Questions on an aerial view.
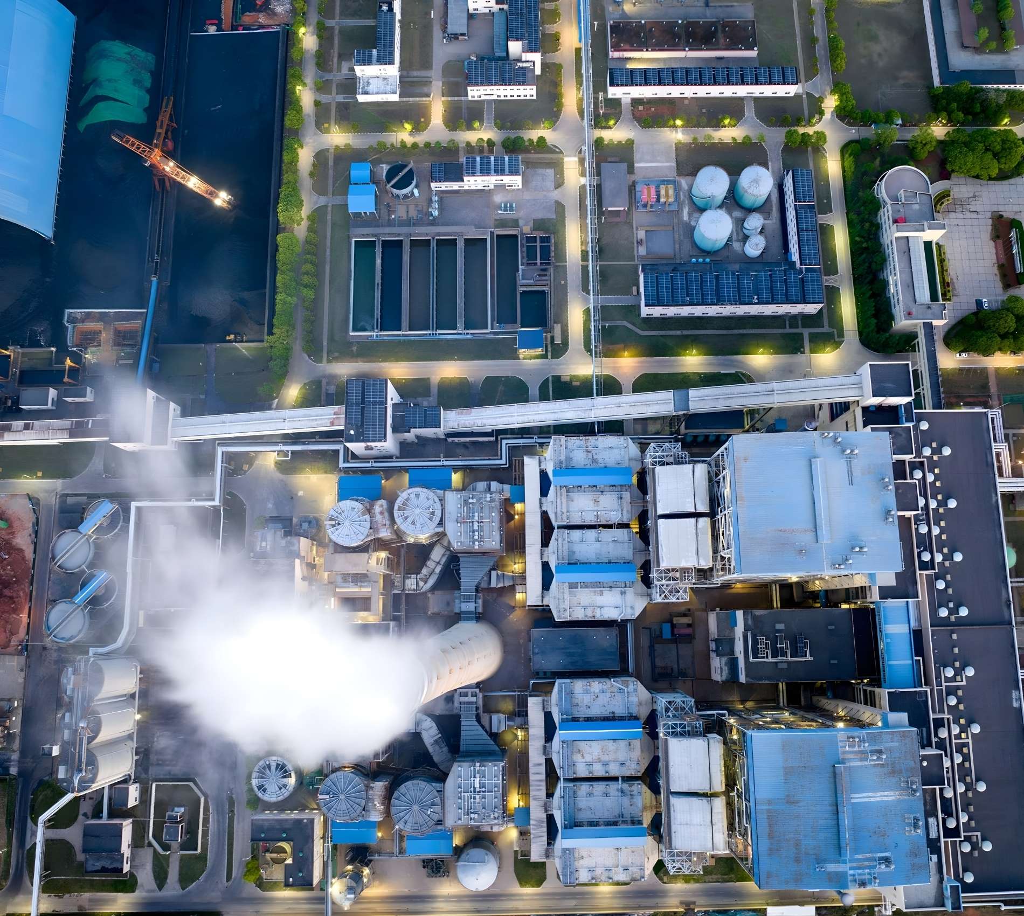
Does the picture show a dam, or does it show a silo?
silo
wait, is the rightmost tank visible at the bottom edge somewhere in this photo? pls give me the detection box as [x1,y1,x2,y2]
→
[455,835,502,895]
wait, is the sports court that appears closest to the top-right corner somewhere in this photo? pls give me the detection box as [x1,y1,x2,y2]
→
[1002,393,1024,426]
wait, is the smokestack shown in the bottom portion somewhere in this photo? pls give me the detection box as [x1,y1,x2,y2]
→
[359,621,504,714]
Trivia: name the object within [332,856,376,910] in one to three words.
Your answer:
silo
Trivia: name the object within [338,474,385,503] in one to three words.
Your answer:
shed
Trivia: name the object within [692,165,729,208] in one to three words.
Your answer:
storage tank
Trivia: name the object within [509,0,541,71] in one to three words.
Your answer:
building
